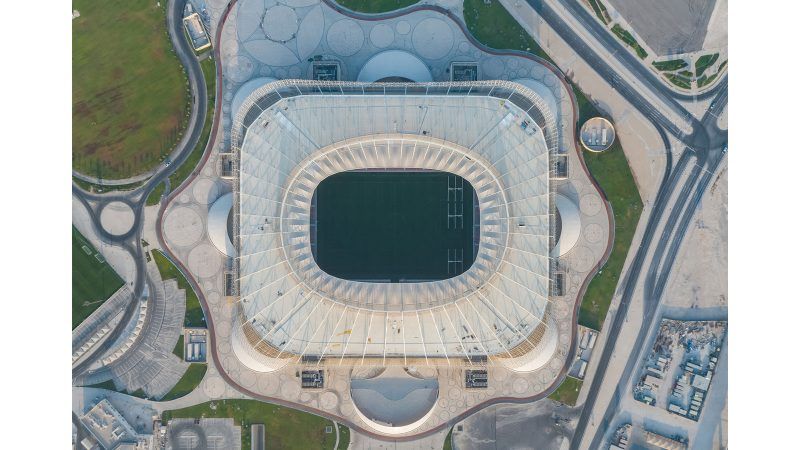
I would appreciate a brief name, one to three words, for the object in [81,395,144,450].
building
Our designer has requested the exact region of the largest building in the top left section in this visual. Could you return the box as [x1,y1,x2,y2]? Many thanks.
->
[180,10,211,51]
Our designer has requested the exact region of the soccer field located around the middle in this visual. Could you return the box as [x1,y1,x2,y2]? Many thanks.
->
[329,181,460,269]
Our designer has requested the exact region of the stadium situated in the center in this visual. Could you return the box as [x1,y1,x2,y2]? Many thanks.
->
[207,49,582,434]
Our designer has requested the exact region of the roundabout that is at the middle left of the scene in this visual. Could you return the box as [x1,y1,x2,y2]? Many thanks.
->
[91,193,142,243]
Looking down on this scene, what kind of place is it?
sports ground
